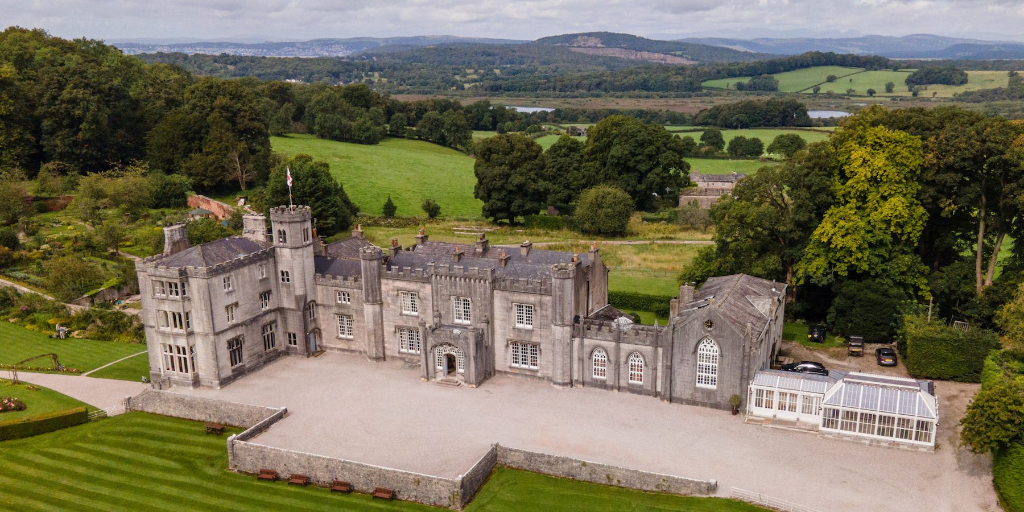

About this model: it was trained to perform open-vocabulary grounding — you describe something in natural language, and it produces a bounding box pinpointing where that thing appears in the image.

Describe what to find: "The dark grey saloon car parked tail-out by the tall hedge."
[875,345,900,365]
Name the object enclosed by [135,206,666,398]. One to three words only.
building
